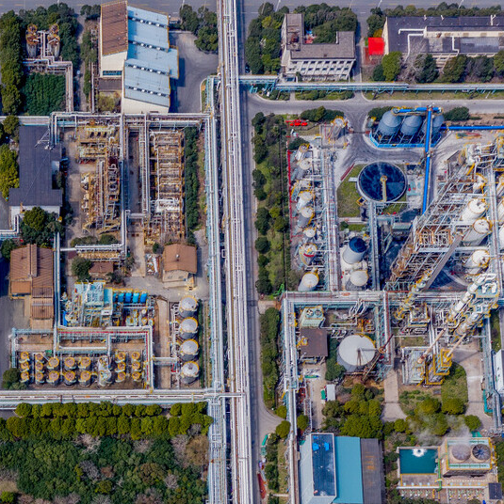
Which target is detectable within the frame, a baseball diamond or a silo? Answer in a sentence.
I can see a silo in this picture.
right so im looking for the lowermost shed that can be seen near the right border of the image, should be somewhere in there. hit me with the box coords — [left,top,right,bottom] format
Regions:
[484,483,503,503]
